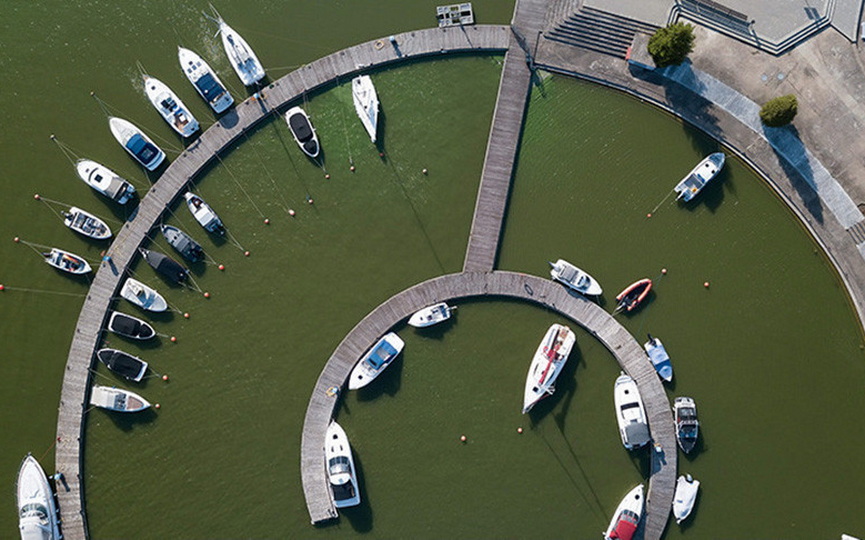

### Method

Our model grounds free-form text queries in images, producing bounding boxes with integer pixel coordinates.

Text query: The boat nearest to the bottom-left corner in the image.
[14,453,67,540]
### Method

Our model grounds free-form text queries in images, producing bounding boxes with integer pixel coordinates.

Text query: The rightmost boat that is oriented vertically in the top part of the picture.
[351,75,382,142]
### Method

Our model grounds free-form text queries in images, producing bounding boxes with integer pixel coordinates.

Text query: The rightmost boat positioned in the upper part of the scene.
[672,151,729,203]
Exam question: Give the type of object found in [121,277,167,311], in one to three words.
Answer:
boat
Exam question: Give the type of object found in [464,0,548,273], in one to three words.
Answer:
pier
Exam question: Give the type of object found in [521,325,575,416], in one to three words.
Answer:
boat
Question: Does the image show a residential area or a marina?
marina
